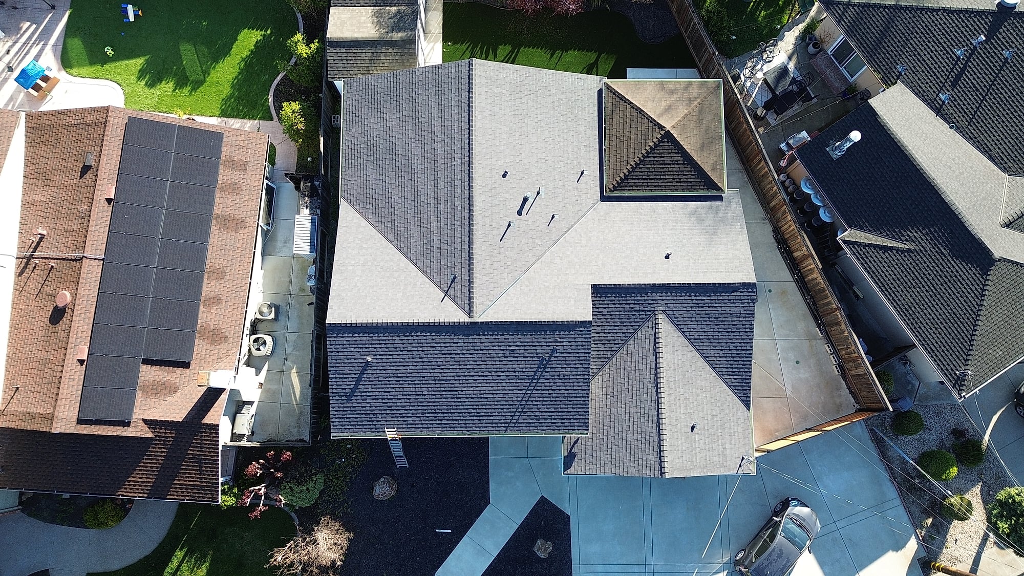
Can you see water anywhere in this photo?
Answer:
No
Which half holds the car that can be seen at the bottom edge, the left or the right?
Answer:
right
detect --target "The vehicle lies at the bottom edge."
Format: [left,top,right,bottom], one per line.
[732,499,822,576]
